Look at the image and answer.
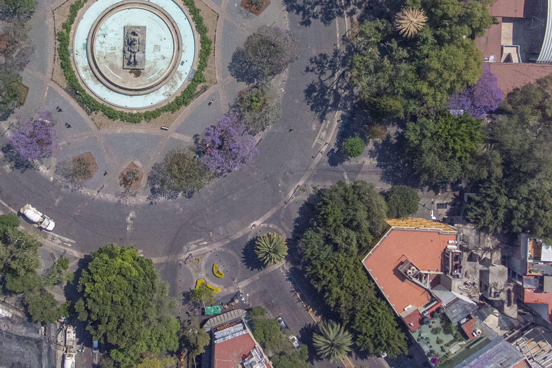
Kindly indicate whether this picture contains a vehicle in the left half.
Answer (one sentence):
Yes, looking in the left half, one can make out a vehicle.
